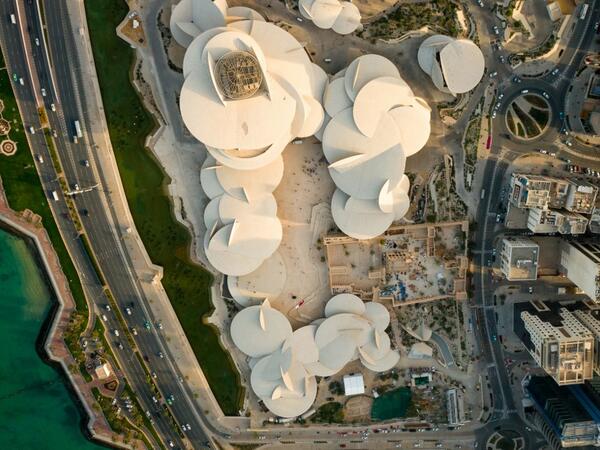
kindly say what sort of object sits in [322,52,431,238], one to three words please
building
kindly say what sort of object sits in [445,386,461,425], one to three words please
shed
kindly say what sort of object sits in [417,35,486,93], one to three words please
building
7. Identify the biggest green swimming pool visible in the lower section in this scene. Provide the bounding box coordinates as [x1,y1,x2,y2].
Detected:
[372,386,412,421]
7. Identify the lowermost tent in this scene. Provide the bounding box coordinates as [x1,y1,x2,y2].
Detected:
[343,372,364,396]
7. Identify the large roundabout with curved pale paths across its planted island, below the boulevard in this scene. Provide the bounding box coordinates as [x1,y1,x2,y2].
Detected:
[492,81,565,151]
